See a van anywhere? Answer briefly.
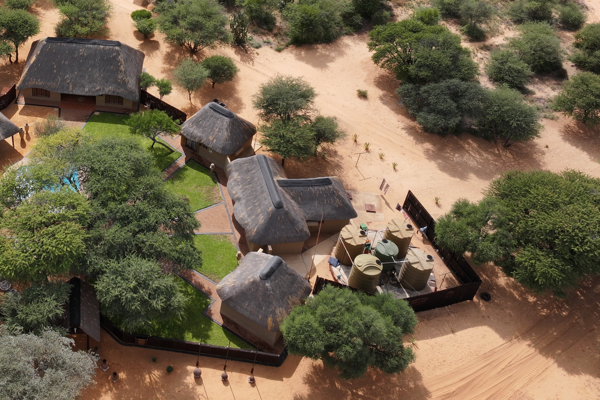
No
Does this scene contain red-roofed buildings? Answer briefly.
No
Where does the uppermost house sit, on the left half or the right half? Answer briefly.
left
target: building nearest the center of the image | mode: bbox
[224,152,357,254]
